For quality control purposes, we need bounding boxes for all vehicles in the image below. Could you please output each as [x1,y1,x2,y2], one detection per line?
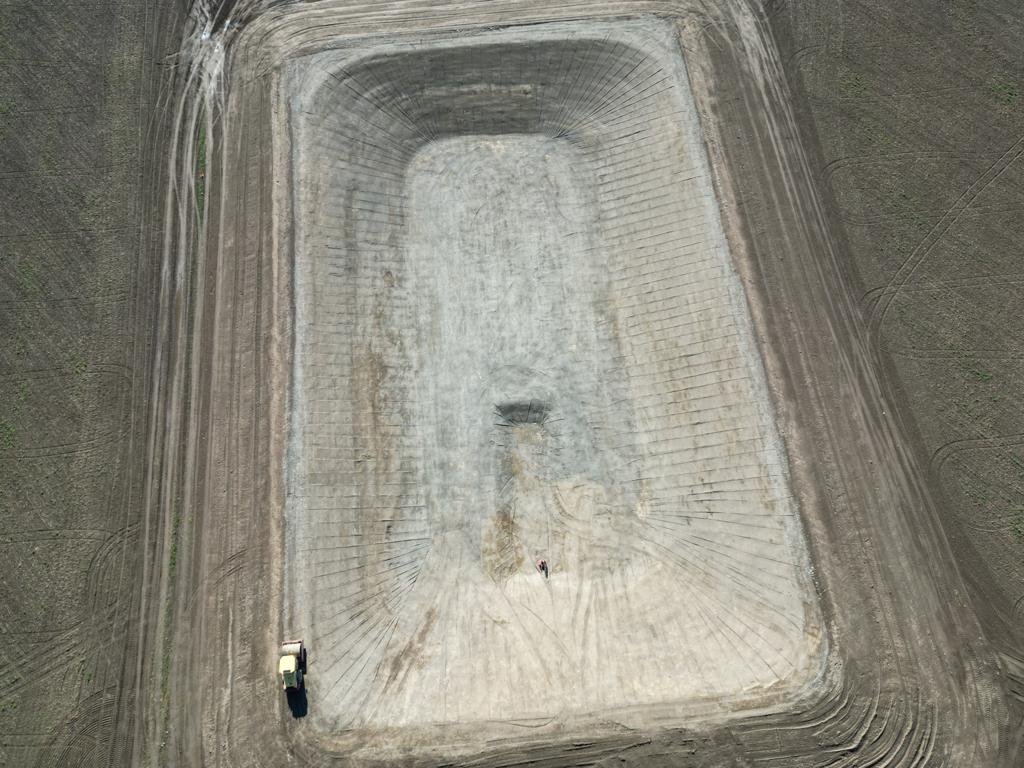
[278,641,305,690]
